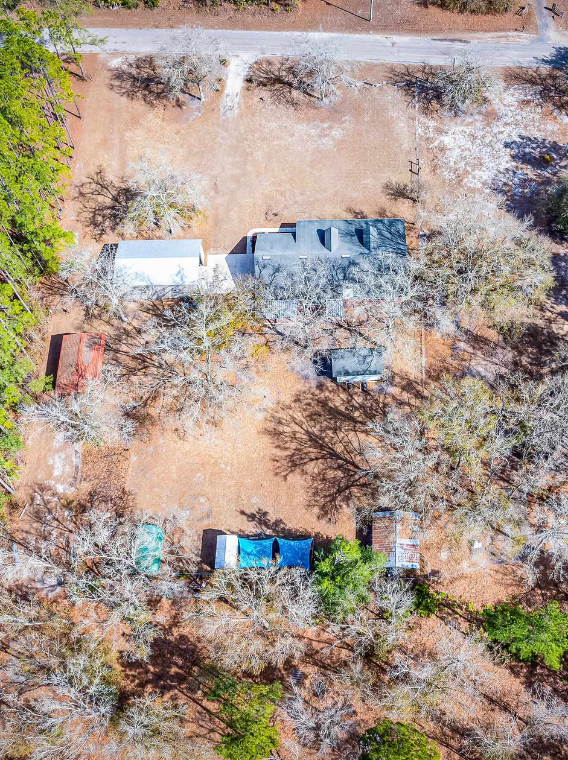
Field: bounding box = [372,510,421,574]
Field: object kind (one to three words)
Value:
barn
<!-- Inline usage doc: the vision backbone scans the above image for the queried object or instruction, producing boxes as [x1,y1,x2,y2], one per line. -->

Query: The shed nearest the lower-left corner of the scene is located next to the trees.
[215,533,240,574]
